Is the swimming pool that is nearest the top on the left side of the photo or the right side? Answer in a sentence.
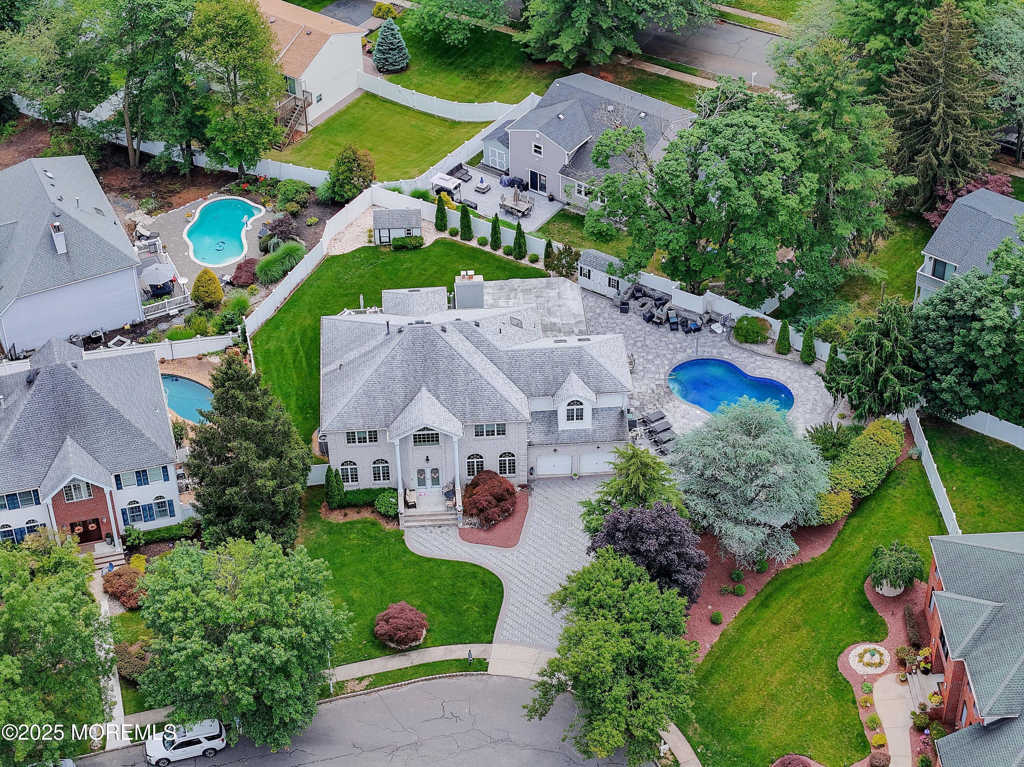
You can find the swimming pool that is nearest the top on the left side of the picture.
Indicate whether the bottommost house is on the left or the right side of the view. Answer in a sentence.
The bottommost house sits on the right side.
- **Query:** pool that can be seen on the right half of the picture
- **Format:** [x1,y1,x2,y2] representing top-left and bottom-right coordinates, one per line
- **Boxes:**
[663,355,799,425]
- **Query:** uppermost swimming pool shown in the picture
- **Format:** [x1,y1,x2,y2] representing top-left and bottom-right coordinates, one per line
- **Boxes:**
[183,196,266,266]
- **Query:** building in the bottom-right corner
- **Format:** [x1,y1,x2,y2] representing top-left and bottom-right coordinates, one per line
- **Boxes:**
[907,532,1024,767]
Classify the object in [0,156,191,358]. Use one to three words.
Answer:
house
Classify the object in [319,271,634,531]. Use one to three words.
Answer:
house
